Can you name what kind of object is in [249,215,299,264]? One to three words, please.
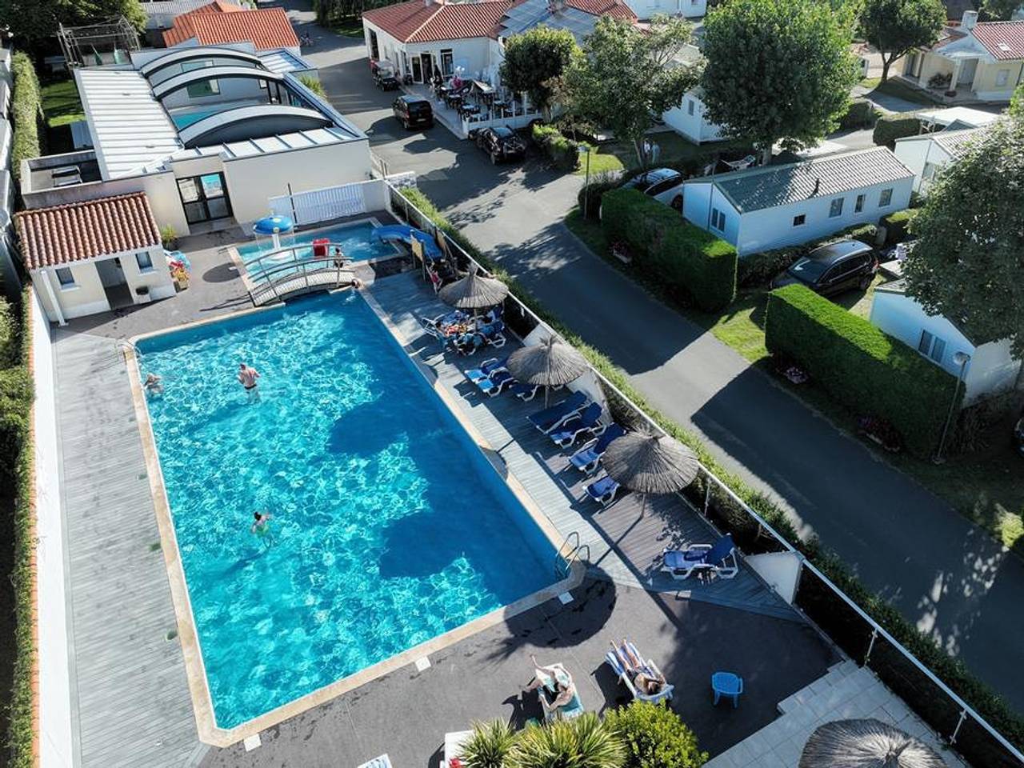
fountain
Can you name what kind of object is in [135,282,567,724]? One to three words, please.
swimming pool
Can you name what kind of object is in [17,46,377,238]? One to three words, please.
building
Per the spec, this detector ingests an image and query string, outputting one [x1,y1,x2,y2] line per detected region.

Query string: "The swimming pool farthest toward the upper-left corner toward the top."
[163,101,245,143]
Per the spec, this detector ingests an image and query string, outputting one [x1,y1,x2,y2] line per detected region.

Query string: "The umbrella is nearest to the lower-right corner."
[795,704,954,768]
